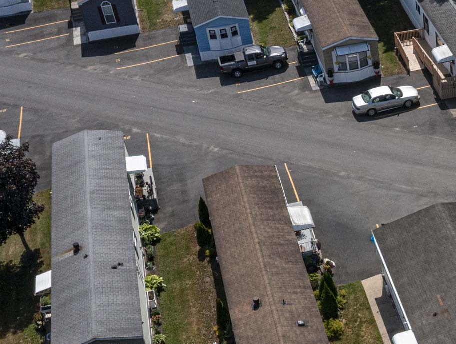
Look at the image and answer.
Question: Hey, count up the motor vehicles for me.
2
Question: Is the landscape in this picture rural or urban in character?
urban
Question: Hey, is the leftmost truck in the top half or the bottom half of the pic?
top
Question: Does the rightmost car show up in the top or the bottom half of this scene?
top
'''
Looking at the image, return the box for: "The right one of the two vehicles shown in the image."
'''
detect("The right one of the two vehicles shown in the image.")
[349,83,420,115]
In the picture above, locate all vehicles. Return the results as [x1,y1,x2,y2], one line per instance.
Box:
[219,41,291,75]
[349,83,420,115]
